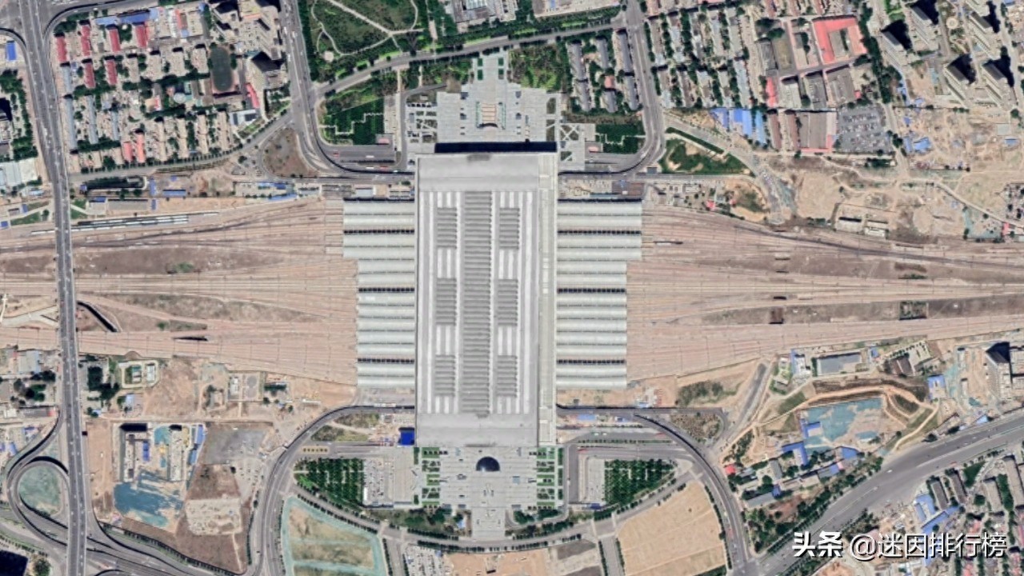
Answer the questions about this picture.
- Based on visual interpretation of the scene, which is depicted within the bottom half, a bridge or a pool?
bridge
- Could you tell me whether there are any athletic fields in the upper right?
No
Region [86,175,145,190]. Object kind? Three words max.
shed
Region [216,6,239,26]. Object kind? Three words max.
building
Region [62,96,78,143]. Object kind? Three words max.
building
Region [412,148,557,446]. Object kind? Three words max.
train station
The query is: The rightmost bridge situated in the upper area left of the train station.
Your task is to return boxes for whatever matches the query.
[308,119,413,179]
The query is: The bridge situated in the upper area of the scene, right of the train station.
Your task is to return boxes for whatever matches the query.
[557,120,659,179]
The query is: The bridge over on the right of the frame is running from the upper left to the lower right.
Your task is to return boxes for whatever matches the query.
[557,405,755,576]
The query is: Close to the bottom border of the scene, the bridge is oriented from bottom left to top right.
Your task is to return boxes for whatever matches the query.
[257,404,413,576]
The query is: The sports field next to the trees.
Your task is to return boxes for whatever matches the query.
[210,44,237,97]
